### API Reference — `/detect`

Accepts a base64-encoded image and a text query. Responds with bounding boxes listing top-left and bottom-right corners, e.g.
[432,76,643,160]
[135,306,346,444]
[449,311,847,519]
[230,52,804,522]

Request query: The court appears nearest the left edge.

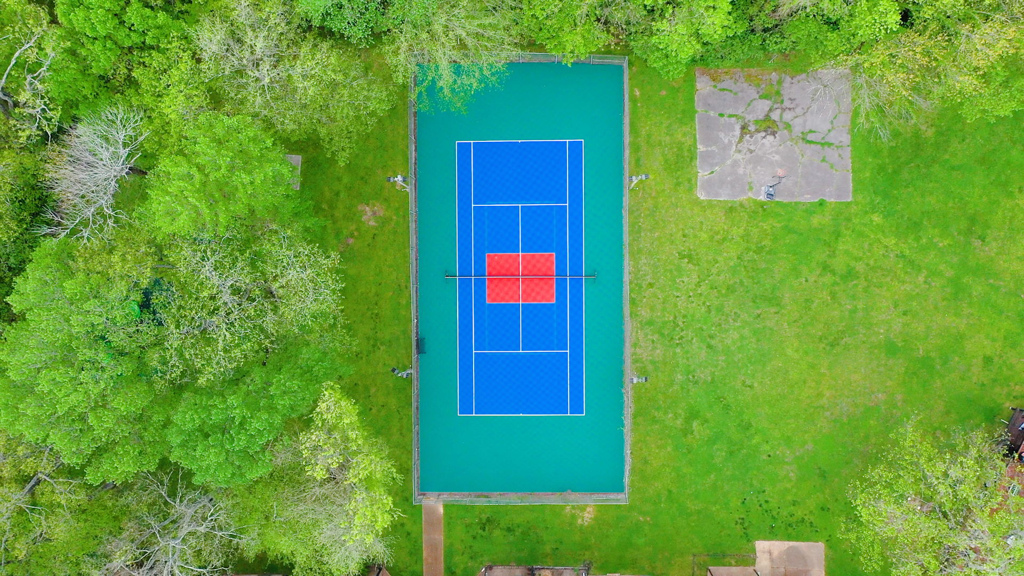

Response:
[412,60,629,497]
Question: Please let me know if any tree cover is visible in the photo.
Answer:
Yes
